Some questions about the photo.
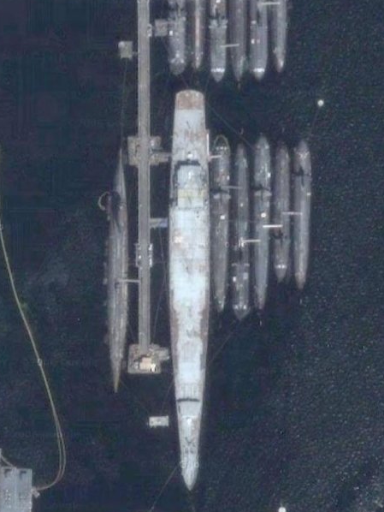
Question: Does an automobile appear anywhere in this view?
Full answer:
No, no automobile is visible in the view.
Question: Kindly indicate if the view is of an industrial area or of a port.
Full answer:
This image shows a port.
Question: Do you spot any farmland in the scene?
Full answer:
No, farmland can't be seen anywhere here.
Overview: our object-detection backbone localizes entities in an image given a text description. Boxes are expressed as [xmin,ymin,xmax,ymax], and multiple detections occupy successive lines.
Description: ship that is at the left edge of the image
[0,469,32,512]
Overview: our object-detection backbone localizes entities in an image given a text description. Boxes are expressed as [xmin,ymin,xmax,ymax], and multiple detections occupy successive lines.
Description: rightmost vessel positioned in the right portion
[294,140,311,295]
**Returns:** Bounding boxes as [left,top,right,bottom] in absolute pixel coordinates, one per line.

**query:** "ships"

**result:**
[294,140,311,295]
[0,469,32,512]
[250,0,268,79]
[233,145,251,320]
[212,138,230,318]
[209,0,227,81]
[273,0,288,71]
[231,0,246,88]
[170,89,210,491]
[190,0,206,79]
[273,144,291,281]
[107,151,127,390]
[168,0,186,73]
[254,136,271,317]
